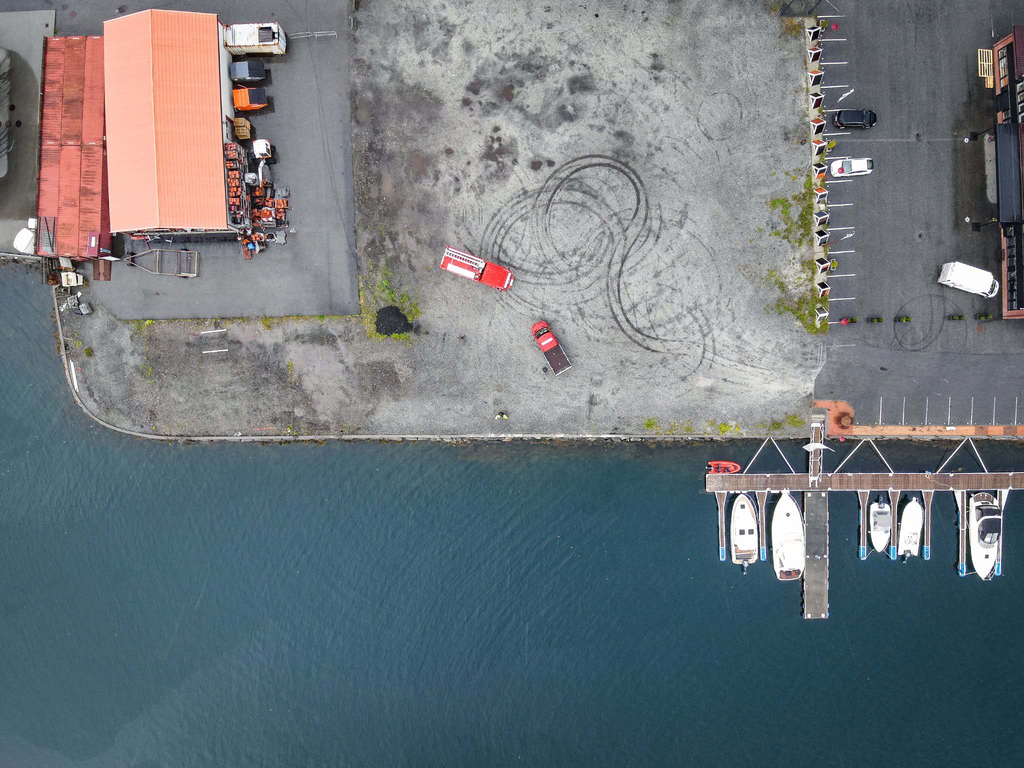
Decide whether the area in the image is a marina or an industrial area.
marina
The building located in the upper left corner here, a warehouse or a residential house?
warehouse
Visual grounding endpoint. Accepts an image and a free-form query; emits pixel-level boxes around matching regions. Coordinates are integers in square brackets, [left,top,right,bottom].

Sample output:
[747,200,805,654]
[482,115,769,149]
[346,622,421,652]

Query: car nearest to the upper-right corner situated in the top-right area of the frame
[835,106,879,128]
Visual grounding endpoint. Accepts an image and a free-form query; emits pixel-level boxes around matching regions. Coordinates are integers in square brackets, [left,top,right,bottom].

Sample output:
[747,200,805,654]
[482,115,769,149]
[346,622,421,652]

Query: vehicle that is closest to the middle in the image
[531,321,574,378]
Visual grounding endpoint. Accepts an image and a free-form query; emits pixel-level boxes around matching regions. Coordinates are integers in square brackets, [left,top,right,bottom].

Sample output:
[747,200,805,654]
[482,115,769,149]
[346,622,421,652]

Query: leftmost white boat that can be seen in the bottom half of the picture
[729,495,758,573]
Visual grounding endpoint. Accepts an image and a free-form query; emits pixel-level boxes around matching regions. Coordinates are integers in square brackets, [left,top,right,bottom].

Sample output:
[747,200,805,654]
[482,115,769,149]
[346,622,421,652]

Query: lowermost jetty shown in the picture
[800,490,830,618]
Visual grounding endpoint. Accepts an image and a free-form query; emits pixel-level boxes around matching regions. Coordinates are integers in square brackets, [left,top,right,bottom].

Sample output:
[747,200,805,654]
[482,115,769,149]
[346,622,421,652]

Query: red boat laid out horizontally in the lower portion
[702,461,741,473]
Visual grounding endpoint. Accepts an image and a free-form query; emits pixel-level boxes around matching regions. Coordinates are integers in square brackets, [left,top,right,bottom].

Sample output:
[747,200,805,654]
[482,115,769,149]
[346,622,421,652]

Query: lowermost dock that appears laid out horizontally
[706,472,1024,492]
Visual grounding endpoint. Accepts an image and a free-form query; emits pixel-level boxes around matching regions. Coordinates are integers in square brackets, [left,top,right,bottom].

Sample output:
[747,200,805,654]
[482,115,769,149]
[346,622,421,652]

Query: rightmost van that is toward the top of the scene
[926,261,1000,301]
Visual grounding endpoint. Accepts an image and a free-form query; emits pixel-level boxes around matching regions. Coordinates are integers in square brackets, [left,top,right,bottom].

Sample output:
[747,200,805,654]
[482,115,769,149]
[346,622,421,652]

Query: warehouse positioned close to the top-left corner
[102,7,242,239]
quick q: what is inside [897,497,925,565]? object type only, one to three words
boat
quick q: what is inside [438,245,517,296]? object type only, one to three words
truck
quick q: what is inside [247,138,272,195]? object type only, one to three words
work vehicle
